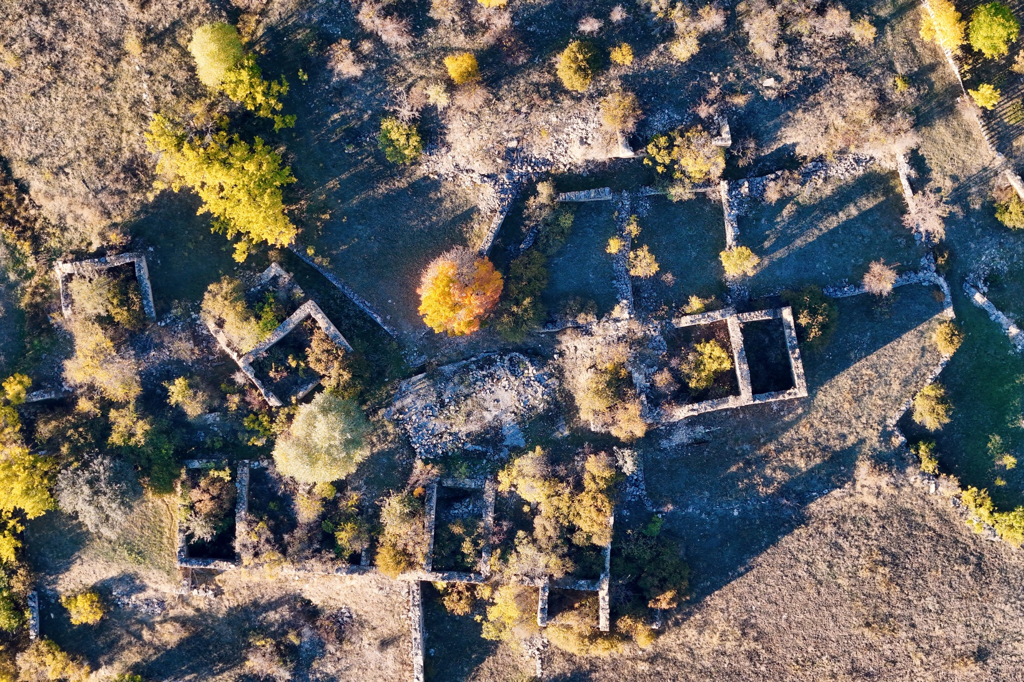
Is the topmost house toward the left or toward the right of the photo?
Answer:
left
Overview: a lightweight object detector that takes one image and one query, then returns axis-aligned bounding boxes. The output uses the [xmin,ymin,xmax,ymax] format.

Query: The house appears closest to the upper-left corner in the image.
[58,250,163,317]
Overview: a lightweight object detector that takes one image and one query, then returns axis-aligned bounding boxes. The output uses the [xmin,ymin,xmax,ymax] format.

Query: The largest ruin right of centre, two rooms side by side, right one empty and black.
[592,305,806,431]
